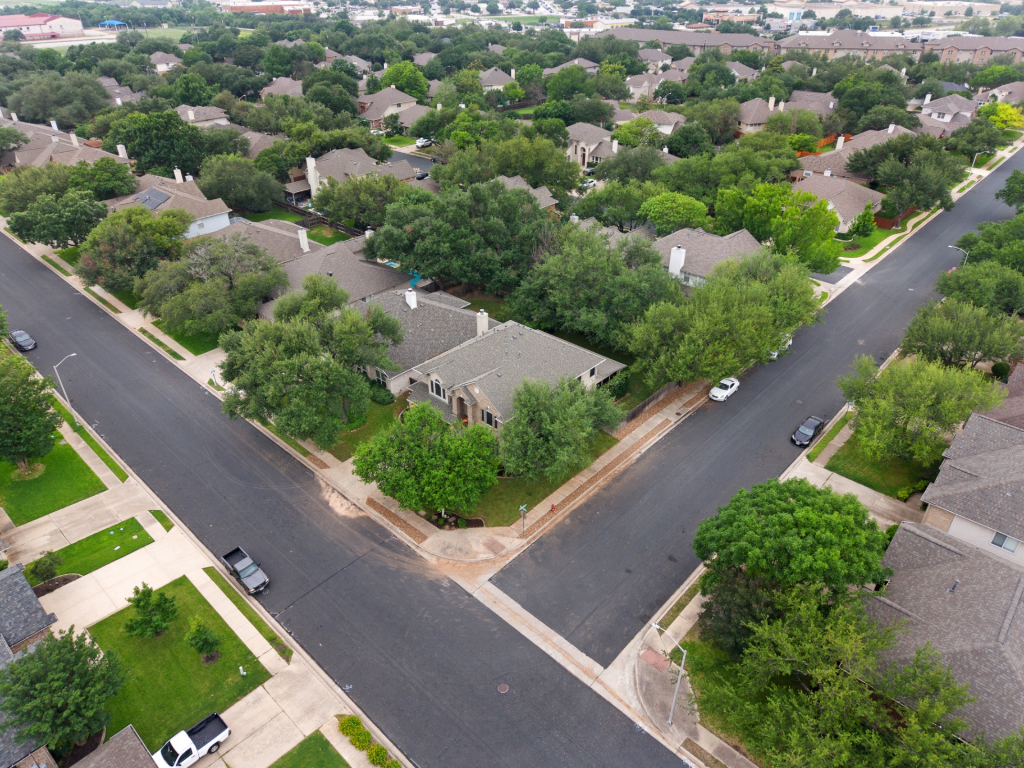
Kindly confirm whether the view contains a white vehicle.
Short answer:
Yes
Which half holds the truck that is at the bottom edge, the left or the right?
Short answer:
left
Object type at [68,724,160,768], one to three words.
house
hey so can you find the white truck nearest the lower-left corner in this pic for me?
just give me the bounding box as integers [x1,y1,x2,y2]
[153,705,242,768]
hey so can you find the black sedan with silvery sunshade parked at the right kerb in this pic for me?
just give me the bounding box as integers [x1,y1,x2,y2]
[790,415,825,447]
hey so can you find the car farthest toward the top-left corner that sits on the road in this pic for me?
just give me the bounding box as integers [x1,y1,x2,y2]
[9,329,38,352]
